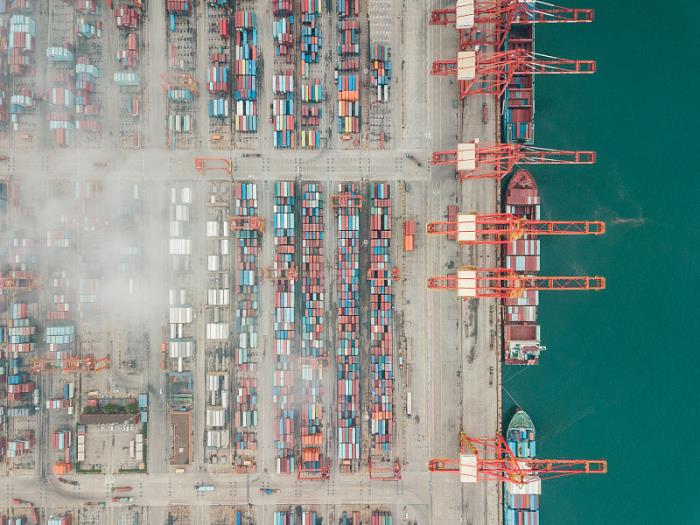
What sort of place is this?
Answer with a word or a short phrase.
port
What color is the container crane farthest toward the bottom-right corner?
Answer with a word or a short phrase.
red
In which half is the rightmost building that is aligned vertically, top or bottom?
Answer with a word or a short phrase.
bottom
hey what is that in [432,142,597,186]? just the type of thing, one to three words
container crane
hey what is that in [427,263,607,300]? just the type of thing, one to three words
container crane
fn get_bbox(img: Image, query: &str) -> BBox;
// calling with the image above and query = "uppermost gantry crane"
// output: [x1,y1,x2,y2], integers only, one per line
[432,0,594,58]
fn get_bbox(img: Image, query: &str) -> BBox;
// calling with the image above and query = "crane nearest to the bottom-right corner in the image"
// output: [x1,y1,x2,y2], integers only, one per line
[429,428,608,486]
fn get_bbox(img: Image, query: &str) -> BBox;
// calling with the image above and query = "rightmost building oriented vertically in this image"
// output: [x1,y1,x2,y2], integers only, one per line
[170,410,193,465]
